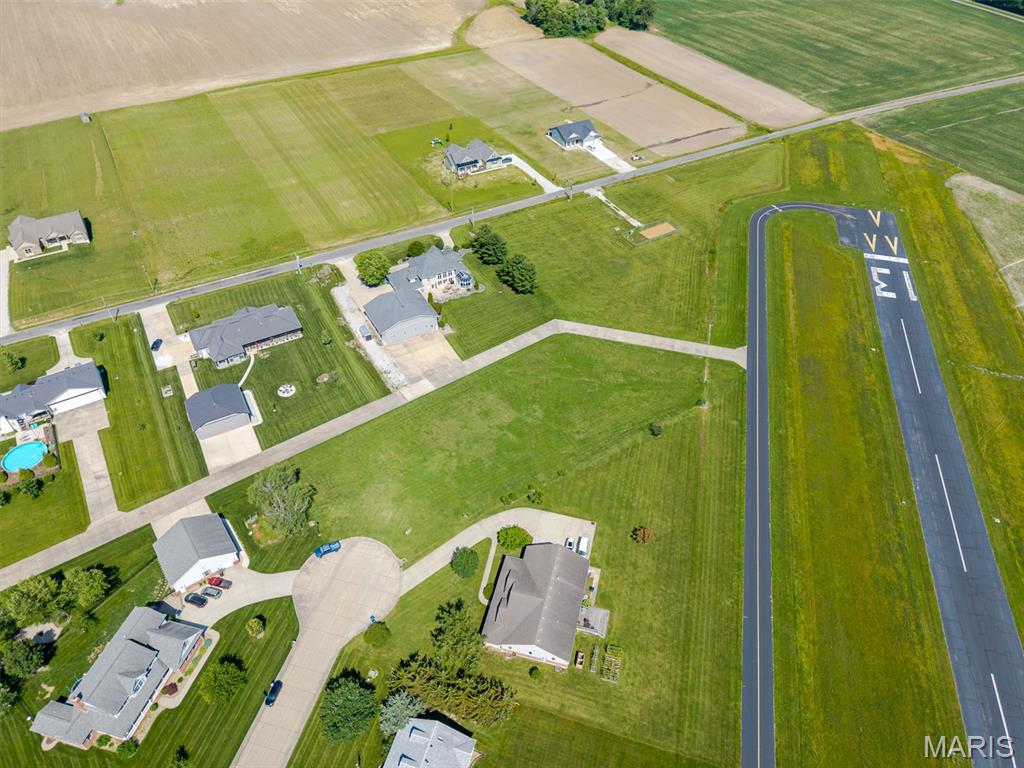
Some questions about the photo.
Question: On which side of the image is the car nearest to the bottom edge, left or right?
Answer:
left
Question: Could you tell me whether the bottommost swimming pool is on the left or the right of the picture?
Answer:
left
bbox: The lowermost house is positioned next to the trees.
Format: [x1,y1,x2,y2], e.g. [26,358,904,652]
[385,718,477,768]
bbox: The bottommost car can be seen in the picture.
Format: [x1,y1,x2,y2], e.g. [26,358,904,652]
[261,678,285,705]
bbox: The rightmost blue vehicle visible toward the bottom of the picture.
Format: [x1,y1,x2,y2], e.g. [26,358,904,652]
[314,540,341,555]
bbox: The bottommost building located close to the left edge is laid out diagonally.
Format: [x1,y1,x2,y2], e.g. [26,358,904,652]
[29,606,200,750]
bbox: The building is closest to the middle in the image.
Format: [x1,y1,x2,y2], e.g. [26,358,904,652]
[363,244,476,340]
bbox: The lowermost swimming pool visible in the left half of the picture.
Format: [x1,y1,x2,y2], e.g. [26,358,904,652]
[1,443,49,471]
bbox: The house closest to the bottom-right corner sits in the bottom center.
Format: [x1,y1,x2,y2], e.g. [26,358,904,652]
[477,545,591,667]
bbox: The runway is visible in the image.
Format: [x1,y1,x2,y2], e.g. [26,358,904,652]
[864,213,1024,768]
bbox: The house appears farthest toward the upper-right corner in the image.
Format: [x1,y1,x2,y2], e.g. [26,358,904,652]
[547,119,602,148]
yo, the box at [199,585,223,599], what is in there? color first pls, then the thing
gray car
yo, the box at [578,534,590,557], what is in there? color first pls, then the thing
white vehicle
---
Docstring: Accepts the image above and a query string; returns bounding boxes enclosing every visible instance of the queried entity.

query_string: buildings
[385,718,477,768]
[0,359,105,439]
[153,513,239,592]
[363,244,476,340]
[547,119,602,148]
[477,545,591,667]
[29,606,200,750]
[8,214,93,261]
[186,384,250,437]
[188,304,305,366]
[443,141,507,179]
